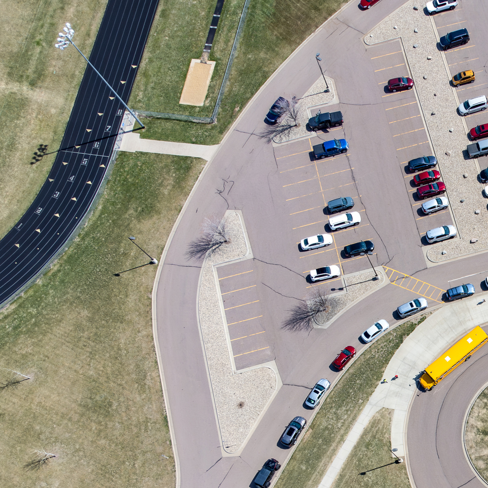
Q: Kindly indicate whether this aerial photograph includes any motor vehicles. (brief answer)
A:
Yes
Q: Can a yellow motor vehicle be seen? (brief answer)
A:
Yes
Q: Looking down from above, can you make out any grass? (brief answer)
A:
Yes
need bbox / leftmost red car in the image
[329,346,358,371]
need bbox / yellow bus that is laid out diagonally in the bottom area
[412,323,488,392]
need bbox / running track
[0,0,159,303]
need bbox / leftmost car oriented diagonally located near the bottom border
[250,458,281,488]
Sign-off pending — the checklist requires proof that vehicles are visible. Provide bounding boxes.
[451,70,477,87]
[444,283,477,302]
[458,96,488,116]
[479,165,488,183]
[411,170,442,187]
[327,211,362,231]
[343,241,375,257]
[307,109,345,131]
[415,181,448,199]
[439,27,471,49]
[425,224,458,243]
[407,154,438,172]
[299,233,334,251]
[425,0,460,16]
[308,264,341,281]
[250,458,281,488]
[325,196,356,214]
[468,124,488,142]
[358,320,391,344]
[311,138,350,159]
[386,75,414,92]
[396,297,430,319]
[419,197,451,215]
[465,139,488,159]
[329,346,358,371]
[302,378,331,410]
[412,323,488,392]
[264,94,291,125]
[279,415,307,449]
